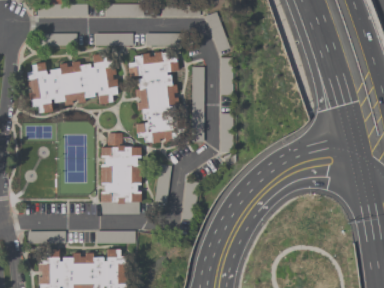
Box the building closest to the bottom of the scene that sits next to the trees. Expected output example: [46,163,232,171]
[39,248,128,288]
